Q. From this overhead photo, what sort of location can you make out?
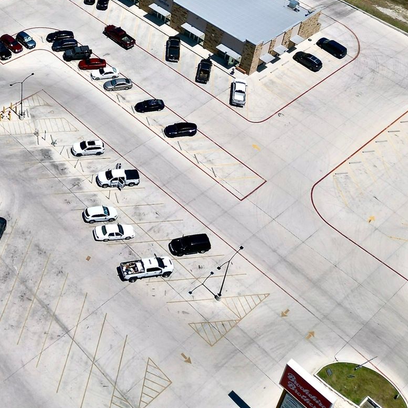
parking lot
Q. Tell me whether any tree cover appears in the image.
No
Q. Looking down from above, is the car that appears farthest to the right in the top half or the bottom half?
top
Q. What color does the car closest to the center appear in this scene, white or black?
black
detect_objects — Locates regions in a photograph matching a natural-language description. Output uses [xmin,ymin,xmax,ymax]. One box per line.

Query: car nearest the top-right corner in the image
[314,38,348,60]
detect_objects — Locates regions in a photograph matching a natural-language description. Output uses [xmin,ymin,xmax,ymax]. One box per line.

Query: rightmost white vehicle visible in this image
[229,81,247,108]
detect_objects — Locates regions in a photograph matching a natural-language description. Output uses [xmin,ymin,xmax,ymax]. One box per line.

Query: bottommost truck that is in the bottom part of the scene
[114,254,176,285]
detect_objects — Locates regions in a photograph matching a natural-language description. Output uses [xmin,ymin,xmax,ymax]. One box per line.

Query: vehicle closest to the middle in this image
[166,231,214,257]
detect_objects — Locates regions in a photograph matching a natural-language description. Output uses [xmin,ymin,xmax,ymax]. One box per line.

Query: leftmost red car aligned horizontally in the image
[77,59,108,72]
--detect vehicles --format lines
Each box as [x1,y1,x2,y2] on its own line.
[0,219,7,247]
[90,222,137,245]
[164,39,181,63]
[135,97,165,115]
[50,37,80,54]
[195,62,213,86]
[97,0,109,11]
[89,69,120,83]
[70,139,106,158]
[96,169,140,190]
[163,120,198,141]
[229,81,247,108]
[114,254,176,285]
[14,30,37,51]
[1,36,22,54]
[0,40,11,61]
[166,231,214,257]
[314,38,348,60]
[103,79,134,94]
[46,28,75,44]
[64,45,91,62]
[292,52,324,73]
[84,0,96,6]
[77,59,108,72]
[81,206,117,225]
[104,28,135,48]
